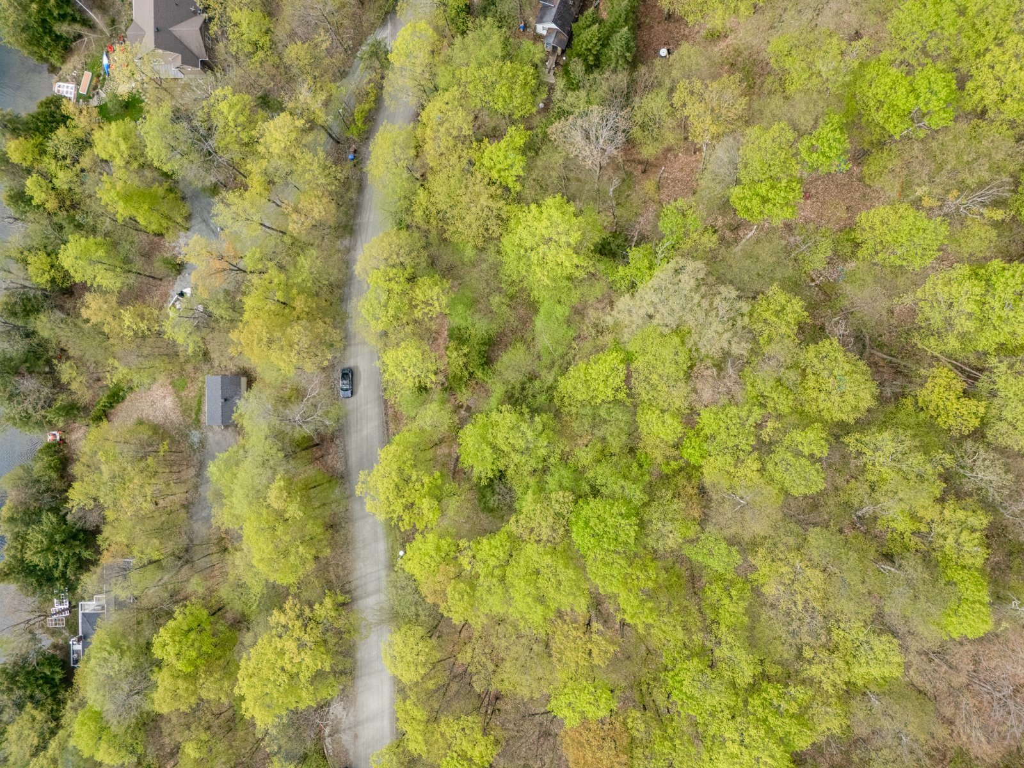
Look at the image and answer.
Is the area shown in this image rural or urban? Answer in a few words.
rural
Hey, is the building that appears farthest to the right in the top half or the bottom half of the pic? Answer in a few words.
top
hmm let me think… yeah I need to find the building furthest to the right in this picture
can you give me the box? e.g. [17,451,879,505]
[537,0,586,59]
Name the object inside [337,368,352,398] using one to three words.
car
